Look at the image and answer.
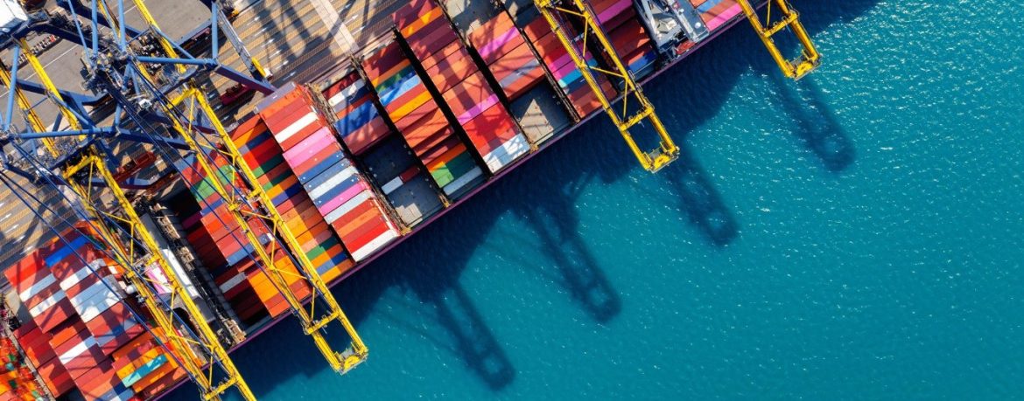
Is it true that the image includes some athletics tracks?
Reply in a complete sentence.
No, no athletics track can be seen from above.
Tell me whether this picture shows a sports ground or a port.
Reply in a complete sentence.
What you see here is a port.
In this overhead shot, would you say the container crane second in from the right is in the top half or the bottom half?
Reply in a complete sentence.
The top half of the photo is where the container crane second in from the right is.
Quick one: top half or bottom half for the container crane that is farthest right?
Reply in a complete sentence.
You can find the container crane that is farthest right in the top half.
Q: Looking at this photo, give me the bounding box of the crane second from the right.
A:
[538,0,685,174]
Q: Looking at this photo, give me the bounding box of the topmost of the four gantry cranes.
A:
[739,0,830,83]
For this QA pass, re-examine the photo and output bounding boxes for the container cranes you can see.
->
[43,0,368,376]
[0,0,255,401]
[538,0,685,174]
[739,0,830,83]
